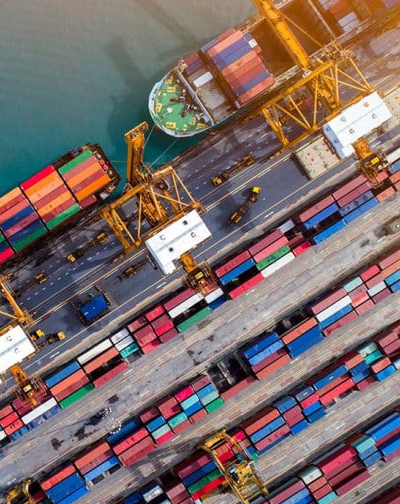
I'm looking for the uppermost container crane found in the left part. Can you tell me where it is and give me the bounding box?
[80,114,216,294]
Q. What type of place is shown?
port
